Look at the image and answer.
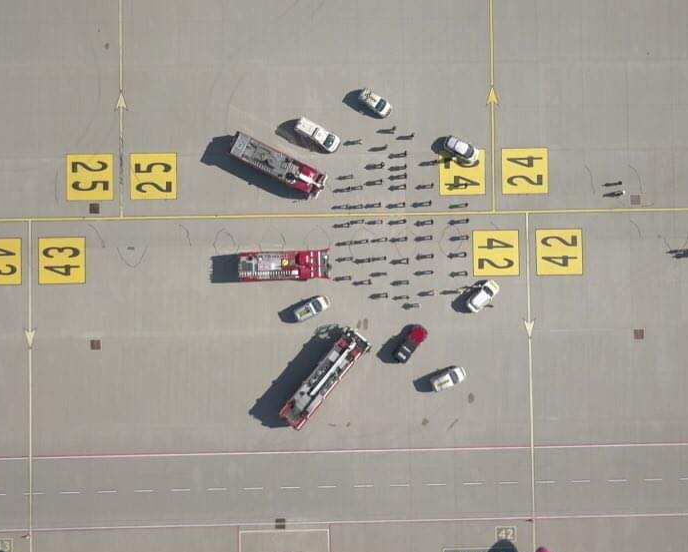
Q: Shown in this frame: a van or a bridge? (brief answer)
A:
van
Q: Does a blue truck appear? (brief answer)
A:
No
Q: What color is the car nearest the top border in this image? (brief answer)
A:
white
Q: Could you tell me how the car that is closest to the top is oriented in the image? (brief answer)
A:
on a diagonal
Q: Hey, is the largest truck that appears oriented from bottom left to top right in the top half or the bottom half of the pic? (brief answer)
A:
bottom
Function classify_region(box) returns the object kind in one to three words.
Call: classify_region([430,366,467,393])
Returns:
car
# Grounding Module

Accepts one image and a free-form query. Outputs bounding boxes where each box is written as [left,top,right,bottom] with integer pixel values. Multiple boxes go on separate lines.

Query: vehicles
[278,326,370,433]
[294,115,341,154]
[394,326,427,365]
[466,279,500,316]
[292,295,331,323]
[441,134,480,163]
[237,247,337,281]
[227,129,328,198]
[430,366,467,393]
[357,85,393,118]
